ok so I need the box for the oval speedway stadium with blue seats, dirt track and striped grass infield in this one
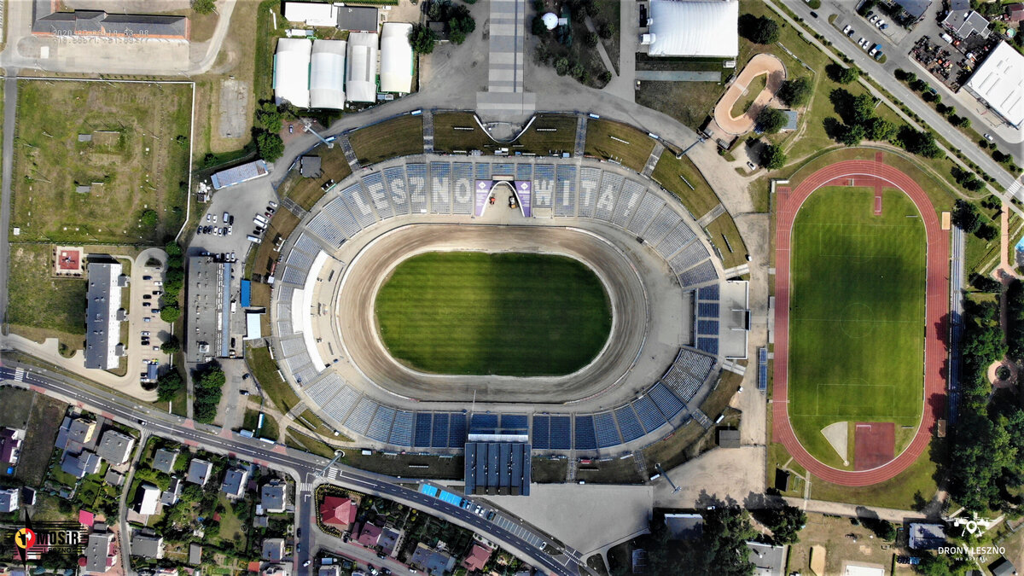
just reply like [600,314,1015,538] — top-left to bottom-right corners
[245,111,750,484]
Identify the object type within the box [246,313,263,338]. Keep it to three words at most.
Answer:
shed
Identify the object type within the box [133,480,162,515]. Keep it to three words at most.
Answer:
shed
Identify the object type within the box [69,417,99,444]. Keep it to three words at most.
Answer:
house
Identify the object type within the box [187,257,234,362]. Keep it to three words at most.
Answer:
building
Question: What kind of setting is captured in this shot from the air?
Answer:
sports ground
